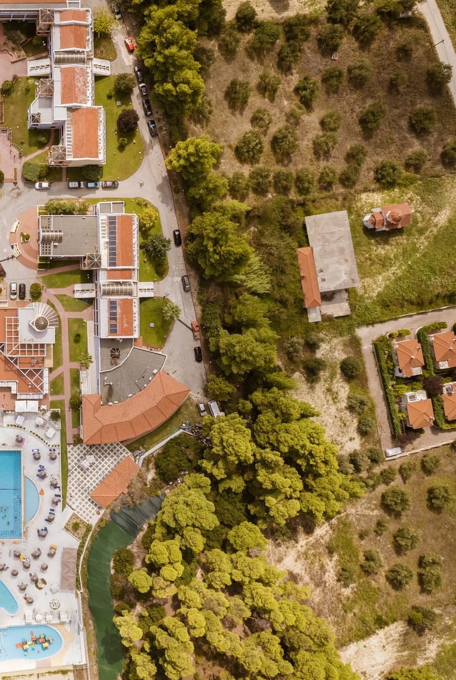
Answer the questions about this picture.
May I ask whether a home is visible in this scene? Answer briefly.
Yes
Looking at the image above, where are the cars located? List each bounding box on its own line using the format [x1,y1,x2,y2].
[0,263,7,278]
[197,401,206,415]
[139,83,148,98]
[10,283,16,300]
[207,399,218,416]
[134,65,144,82]
[102,182,118,189]
[35,183,50,190]
[193,347,201,363]
[142,99,152,116]
[86,182,101,189]
[124,37,134,52]
[172,230,181,246]
[19,283,25,300]
[68,182,83,189]
[384,448,400,456]
[147,120,156,136]
[182,275,190,291]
